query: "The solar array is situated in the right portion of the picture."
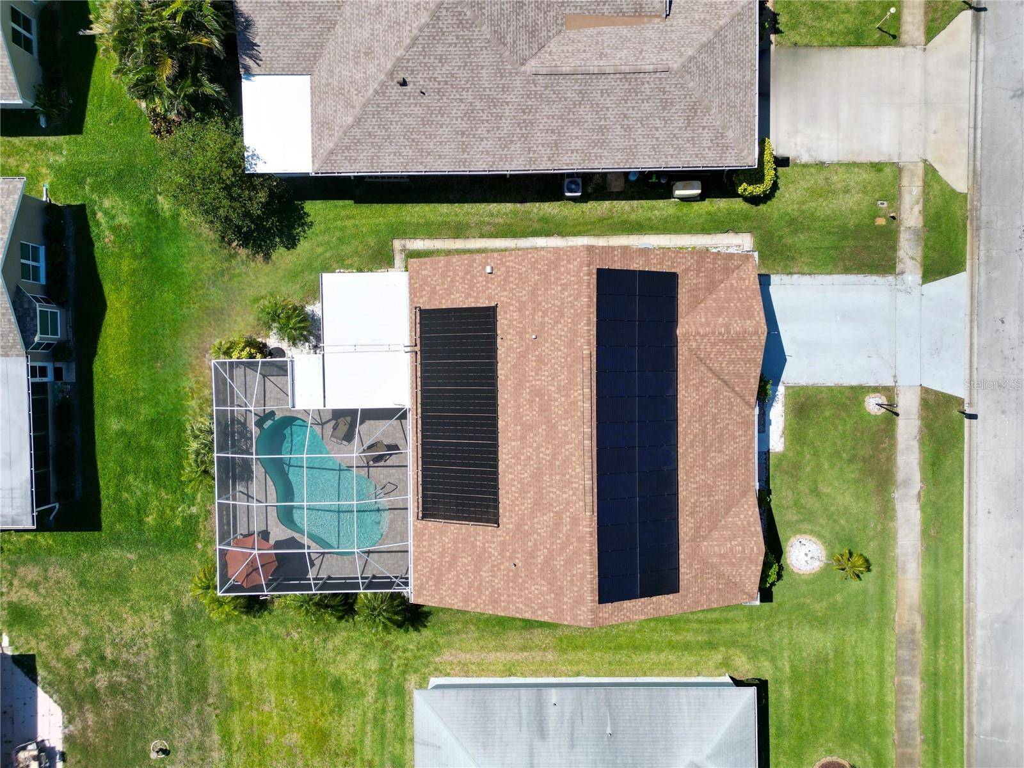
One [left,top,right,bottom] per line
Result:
[598,268,678,603]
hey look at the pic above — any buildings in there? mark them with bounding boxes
[232,0,761,179]
[0,0,49,124]
[407,245,768,627]
[0,175,78,529]
[414,667,760,768]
